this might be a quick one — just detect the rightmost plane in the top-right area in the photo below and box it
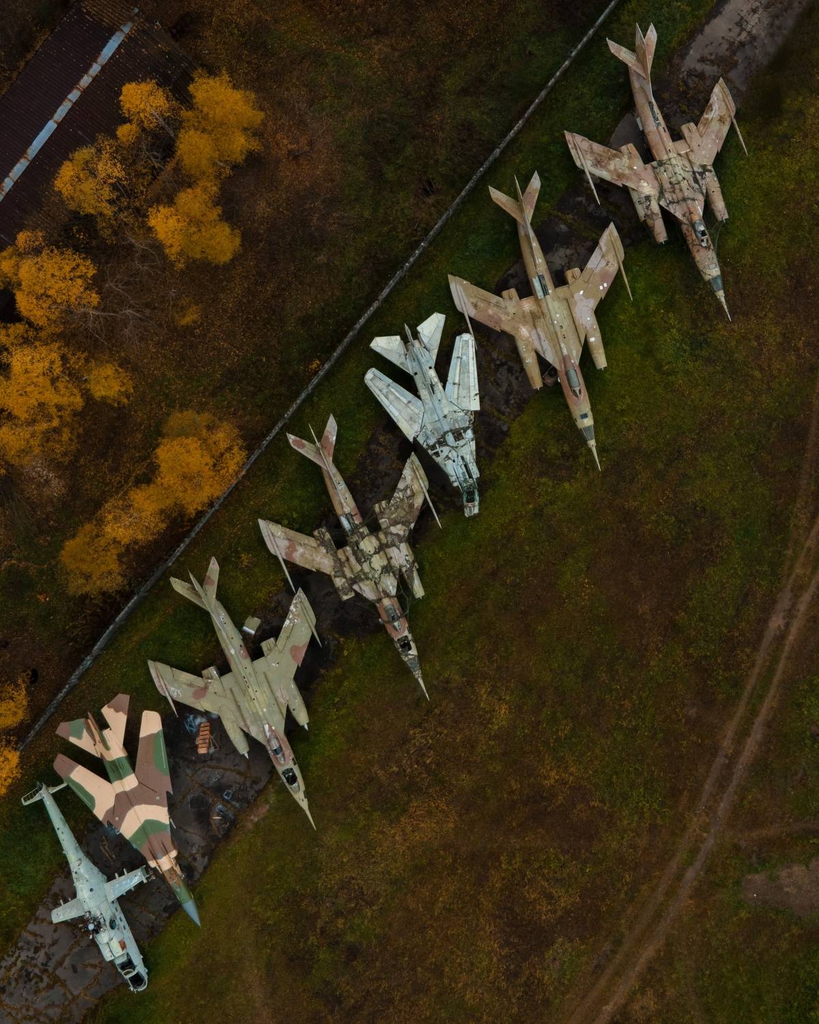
[564,19,751,320]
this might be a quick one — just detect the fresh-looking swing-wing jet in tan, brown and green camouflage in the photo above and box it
[54,693,201,927]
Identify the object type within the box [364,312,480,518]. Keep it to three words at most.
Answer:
airplane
